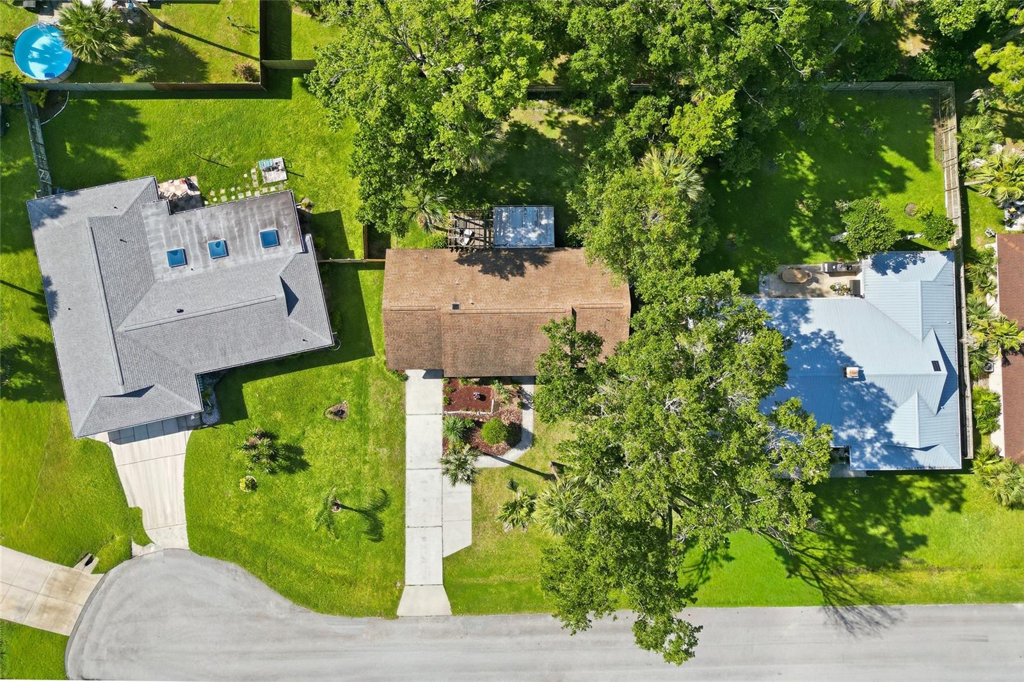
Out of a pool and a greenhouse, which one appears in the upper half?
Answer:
pool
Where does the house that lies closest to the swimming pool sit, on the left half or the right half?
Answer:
left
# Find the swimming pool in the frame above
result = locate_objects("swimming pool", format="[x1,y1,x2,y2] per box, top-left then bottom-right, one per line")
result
[12,17,84,83]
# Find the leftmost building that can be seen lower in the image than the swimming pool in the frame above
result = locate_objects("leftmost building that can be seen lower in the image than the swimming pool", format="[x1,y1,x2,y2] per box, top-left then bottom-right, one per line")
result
[26,174,335,441]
